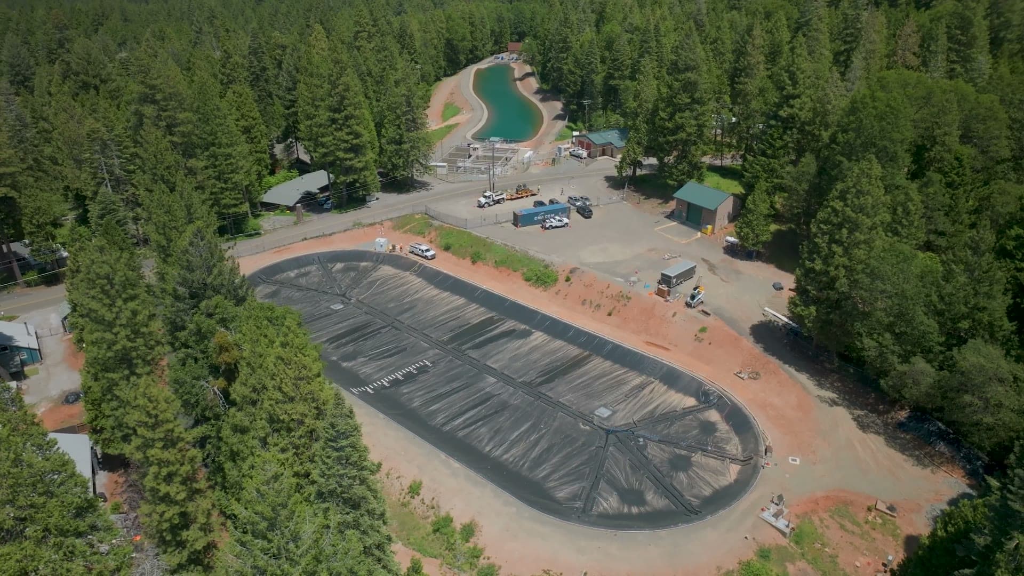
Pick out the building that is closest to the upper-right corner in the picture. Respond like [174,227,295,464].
[671,182,744,234]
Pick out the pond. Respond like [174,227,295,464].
[246,248,768,535]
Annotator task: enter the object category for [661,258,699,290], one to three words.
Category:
trailer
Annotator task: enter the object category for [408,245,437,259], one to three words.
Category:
vehicle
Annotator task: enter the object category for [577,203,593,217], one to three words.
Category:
car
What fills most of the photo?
trees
